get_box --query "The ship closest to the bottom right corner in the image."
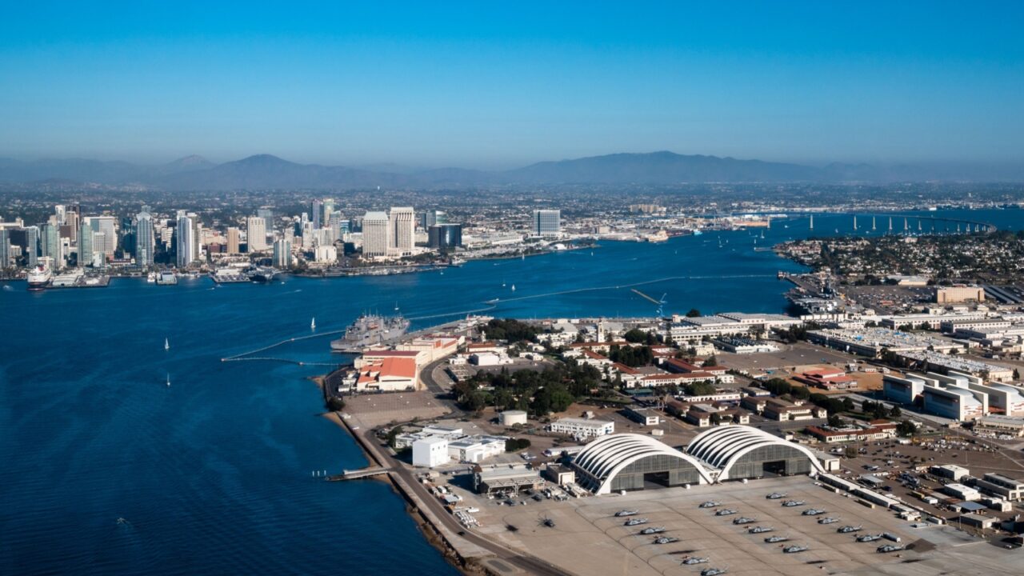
[790,274,833,312]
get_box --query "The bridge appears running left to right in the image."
[728,214,1000,233]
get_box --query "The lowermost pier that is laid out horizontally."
[327,470,388,484]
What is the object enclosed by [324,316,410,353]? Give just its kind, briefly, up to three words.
ship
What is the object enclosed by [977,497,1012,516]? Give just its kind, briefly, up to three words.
shed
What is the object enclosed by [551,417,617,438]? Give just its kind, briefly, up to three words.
building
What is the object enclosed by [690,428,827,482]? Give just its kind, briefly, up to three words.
hangar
